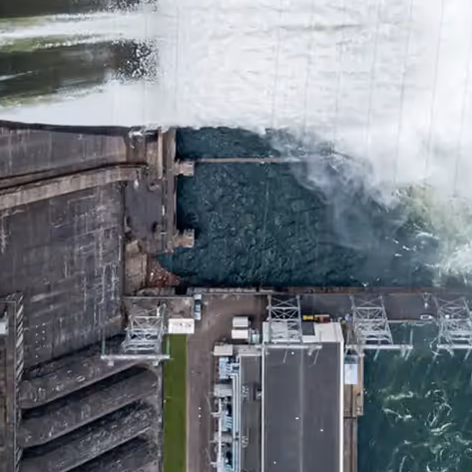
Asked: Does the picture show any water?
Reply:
Yes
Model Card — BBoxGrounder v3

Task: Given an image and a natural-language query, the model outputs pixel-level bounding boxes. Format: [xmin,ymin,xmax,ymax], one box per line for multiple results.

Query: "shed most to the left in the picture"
[167,320,192,335]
